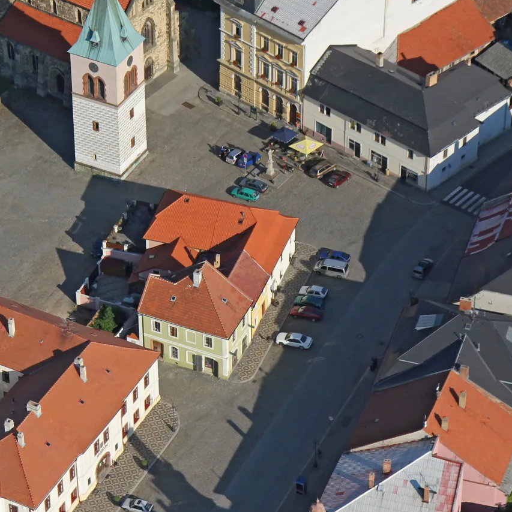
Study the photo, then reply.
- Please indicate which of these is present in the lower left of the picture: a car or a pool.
car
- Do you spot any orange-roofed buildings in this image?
Yes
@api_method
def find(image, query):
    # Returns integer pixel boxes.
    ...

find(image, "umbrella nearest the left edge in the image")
[267,128,302,152]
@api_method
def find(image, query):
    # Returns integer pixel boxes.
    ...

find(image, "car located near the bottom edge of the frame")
[120,496,156,512]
